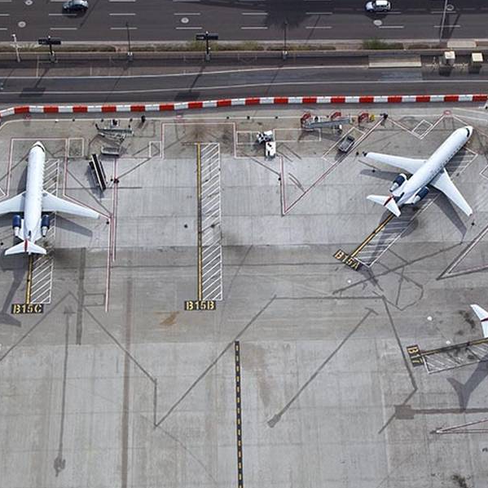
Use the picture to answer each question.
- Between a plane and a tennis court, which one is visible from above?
plane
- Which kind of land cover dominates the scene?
paved ground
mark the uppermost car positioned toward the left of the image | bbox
[62,1,89,13]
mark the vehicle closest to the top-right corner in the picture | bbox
[365,0,391,13]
